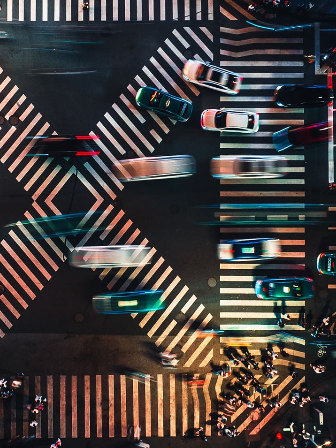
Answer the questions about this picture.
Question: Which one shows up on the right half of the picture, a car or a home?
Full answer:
The feature located on the right half of the picture is a car.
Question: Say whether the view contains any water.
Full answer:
No, water can't be seen anywhere here.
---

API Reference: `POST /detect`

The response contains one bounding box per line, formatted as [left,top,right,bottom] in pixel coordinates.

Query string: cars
[182,59,243,93]
[135,87,193,121]
[218,153,279,181]
[200,106,259,134]
[126,154,186,183]
[39,131,93,159]
[255,275,312,303]
[272,119,336,152]
[219,235,277,263]
[102,288,159,315]
[317,253,336,275]
[273,81,335,110]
